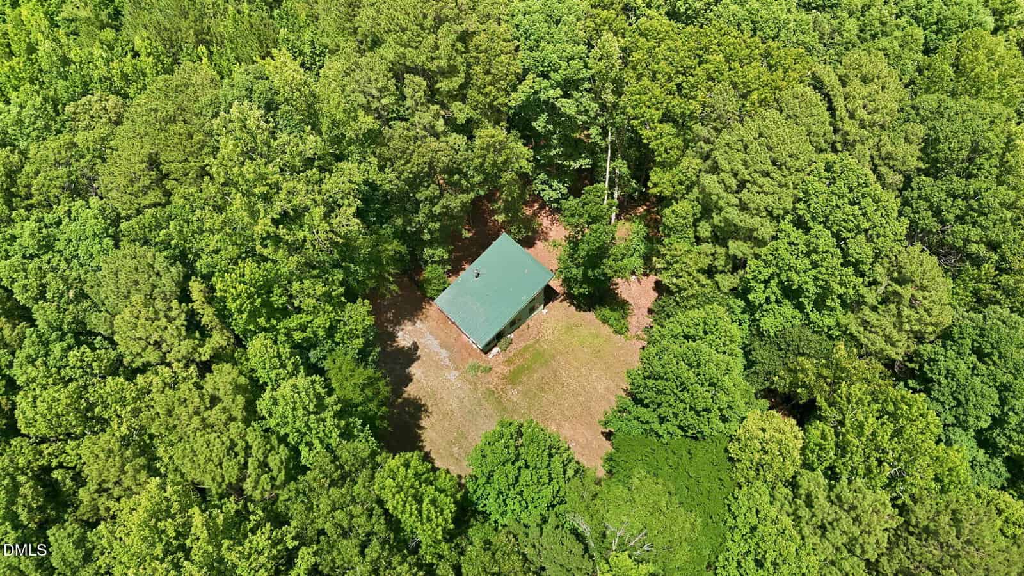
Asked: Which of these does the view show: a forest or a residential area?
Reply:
forest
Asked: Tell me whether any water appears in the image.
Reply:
No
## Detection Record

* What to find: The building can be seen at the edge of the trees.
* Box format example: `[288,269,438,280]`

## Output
[435,231,555,355]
